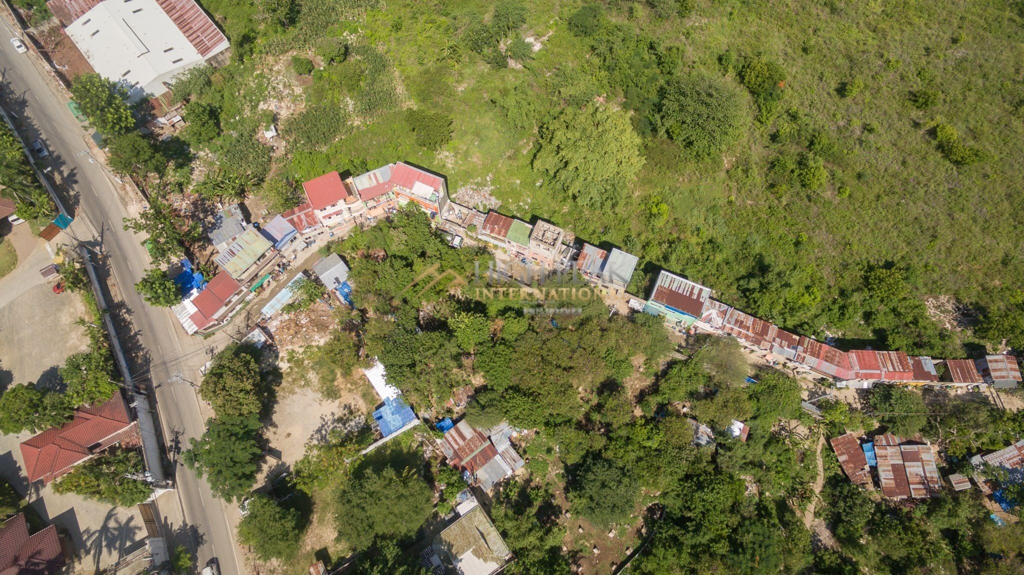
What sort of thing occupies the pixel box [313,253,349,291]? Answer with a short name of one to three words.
shed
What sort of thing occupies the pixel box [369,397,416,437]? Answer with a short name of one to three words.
house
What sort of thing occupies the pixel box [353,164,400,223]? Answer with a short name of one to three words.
building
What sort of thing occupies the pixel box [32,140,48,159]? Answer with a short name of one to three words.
car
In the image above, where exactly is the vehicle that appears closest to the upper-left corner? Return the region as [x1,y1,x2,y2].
[10,37,26,55]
